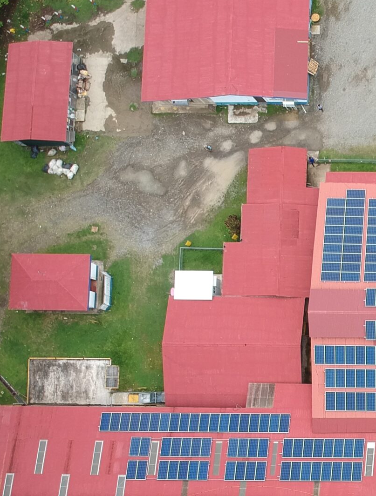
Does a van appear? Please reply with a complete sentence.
No, there appears to be no van in this shot.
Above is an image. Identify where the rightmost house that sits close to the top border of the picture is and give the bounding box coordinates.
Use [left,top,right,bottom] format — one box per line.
[142,0,313,118]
